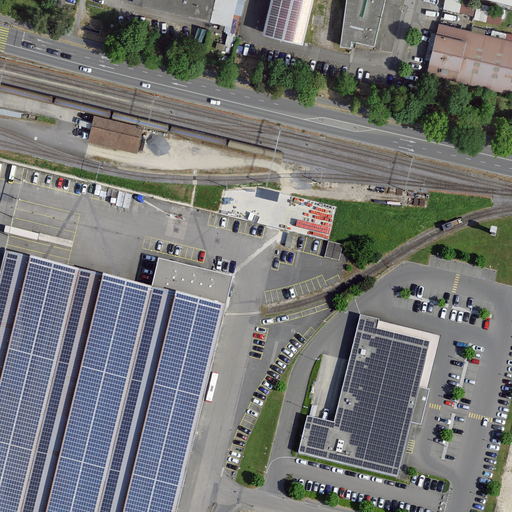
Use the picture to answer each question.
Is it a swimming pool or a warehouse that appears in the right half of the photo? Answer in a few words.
warehouse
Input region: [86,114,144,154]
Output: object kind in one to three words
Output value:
shed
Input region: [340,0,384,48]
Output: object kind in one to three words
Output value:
building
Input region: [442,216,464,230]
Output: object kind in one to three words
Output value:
vehicle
